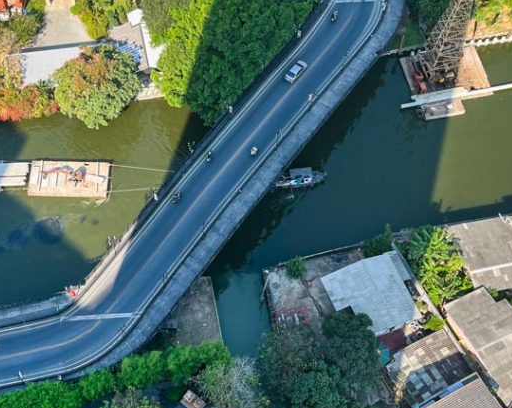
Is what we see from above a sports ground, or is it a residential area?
residential area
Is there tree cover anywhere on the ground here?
Yes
